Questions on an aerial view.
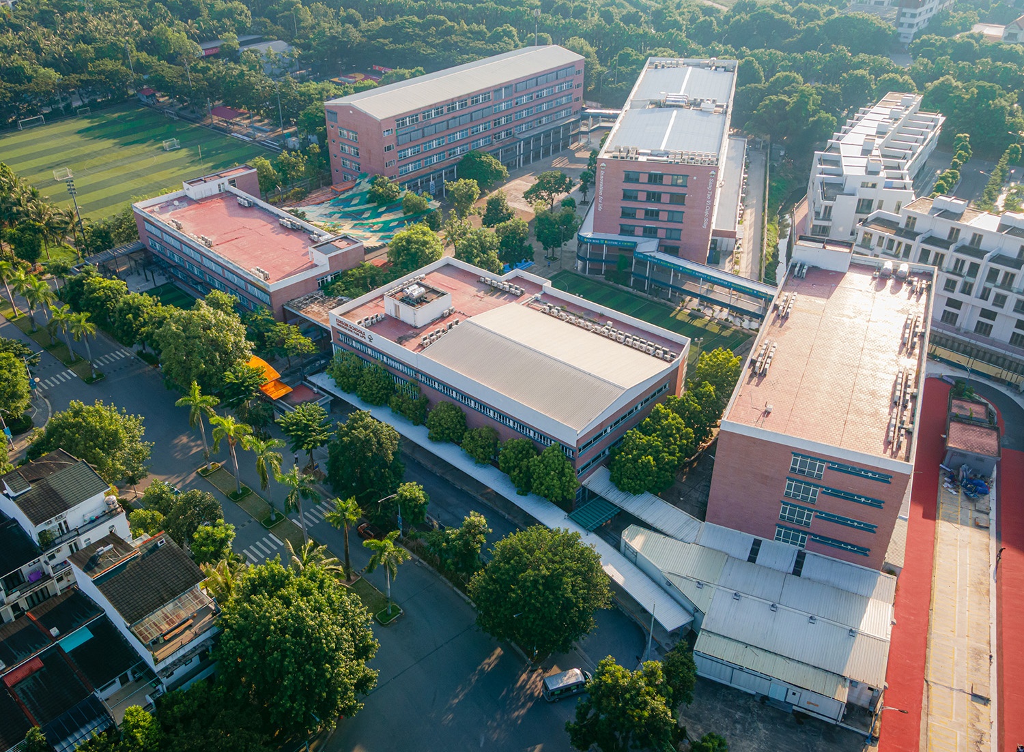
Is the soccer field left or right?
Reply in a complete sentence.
It is on the left.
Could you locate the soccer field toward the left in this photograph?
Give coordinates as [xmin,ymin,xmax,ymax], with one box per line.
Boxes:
[0,104,333,290]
